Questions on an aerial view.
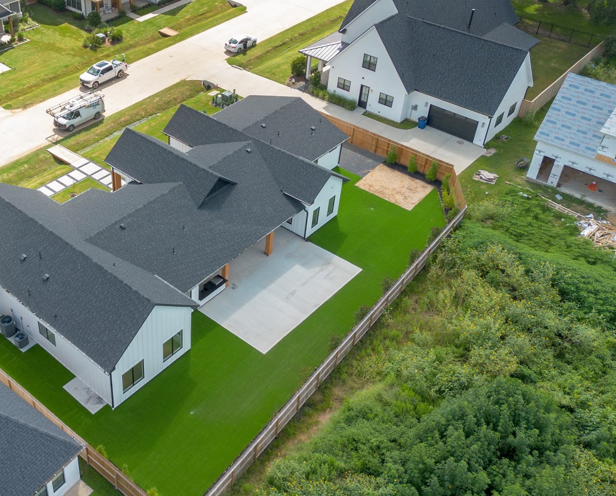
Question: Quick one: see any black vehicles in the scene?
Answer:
No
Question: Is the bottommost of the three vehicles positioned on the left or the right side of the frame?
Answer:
left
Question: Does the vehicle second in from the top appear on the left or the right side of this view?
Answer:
left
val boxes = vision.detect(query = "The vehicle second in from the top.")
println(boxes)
[78,59,126,89]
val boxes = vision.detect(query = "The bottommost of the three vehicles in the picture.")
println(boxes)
[47,87,105,131]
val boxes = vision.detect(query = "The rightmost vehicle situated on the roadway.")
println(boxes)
[225,35,256,52]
